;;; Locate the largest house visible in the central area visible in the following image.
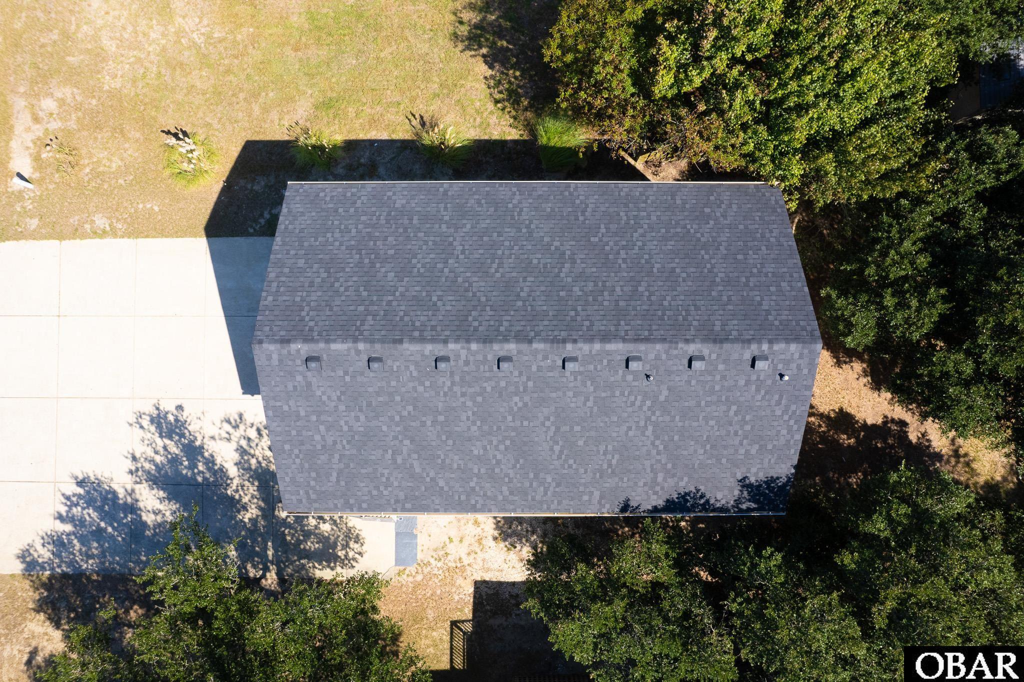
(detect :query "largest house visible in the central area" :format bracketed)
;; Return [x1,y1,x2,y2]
[253,180,822,516]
